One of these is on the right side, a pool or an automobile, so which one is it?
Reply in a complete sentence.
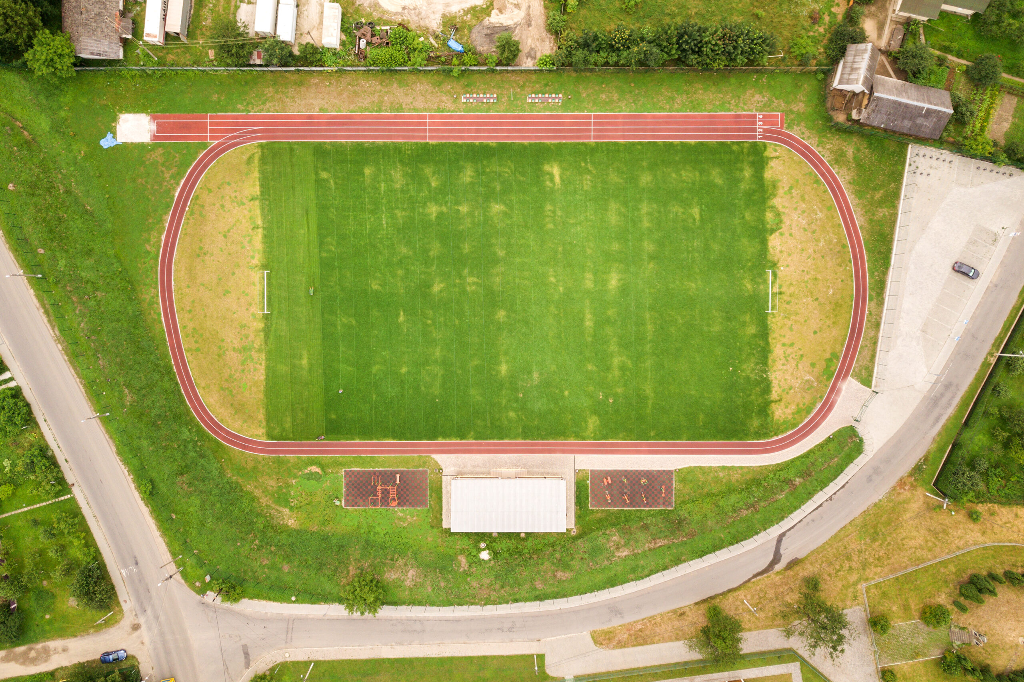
Looking on the right side, you will find an automobile.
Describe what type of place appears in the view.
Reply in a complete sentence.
This image shows a sports ground.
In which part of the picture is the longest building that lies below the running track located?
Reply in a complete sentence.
The longest building that lies below the running track is located in the bottom region of the scene.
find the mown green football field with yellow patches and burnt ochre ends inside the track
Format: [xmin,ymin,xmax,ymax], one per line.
[172,141,854,442]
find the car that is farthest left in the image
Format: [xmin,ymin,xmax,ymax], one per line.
[100,647,128,663]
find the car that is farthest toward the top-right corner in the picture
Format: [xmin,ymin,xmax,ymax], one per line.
[953,261,981,280]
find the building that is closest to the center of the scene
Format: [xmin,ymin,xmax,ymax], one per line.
[451,471,566,532]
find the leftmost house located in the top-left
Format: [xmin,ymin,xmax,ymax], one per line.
[67,0,137,61]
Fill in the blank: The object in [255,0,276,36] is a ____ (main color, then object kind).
white trailer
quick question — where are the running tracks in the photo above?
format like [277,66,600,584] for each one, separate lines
[150,112,869,457]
